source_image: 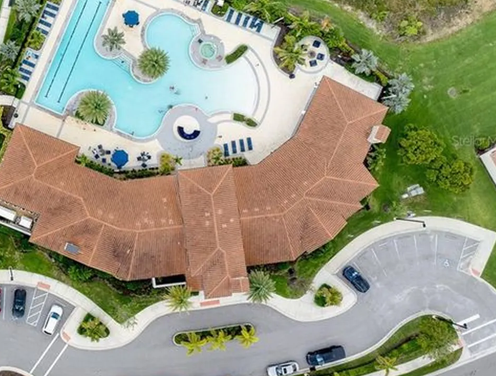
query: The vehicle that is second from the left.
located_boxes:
[43,303,61,337]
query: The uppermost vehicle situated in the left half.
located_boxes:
[12,288,26,320]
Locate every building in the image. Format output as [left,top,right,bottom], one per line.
[481,149,496,187]
[0,75,396,303]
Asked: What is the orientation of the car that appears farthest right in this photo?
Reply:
on a diagonal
